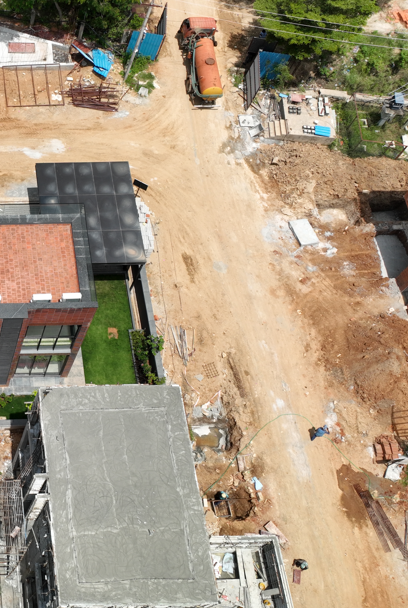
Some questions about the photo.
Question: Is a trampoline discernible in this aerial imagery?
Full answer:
No, there isn't any trampoline down there.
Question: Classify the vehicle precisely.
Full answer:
The vehicle can be classified as a truck.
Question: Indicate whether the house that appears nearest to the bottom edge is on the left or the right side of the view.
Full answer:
The house that appears nearest to the bottom edge sits on the left side.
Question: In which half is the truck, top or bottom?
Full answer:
You can find the truck in the top half.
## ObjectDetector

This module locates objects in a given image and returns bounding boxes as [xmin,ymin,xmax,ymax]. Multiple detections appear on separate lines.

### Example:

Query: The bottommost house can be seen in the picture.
[25,385,218,608]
